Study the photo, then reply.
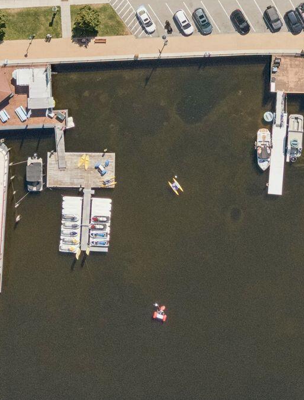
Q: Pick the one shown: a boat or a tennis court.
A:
boat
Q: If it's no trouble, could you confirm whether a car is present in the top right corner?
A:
Yes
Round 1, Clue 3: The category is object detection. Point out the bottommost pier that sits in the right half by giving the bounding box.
[266,113,287,195]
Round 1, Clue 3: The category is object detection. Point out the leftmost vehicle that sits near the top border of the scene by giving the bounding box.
[136,5,156,33]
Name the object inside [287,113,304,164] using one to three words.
boat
